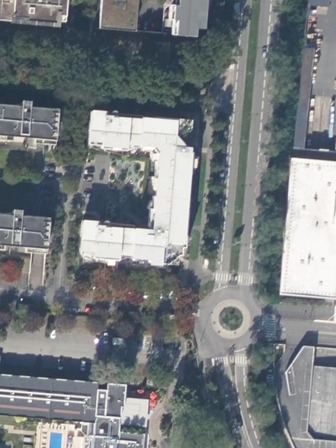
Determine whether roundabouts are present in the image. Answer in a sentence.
Yes, a roundabout appears in the view.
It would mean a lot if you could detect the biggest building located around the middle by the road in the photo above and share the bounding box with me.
[80,110,198,270]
